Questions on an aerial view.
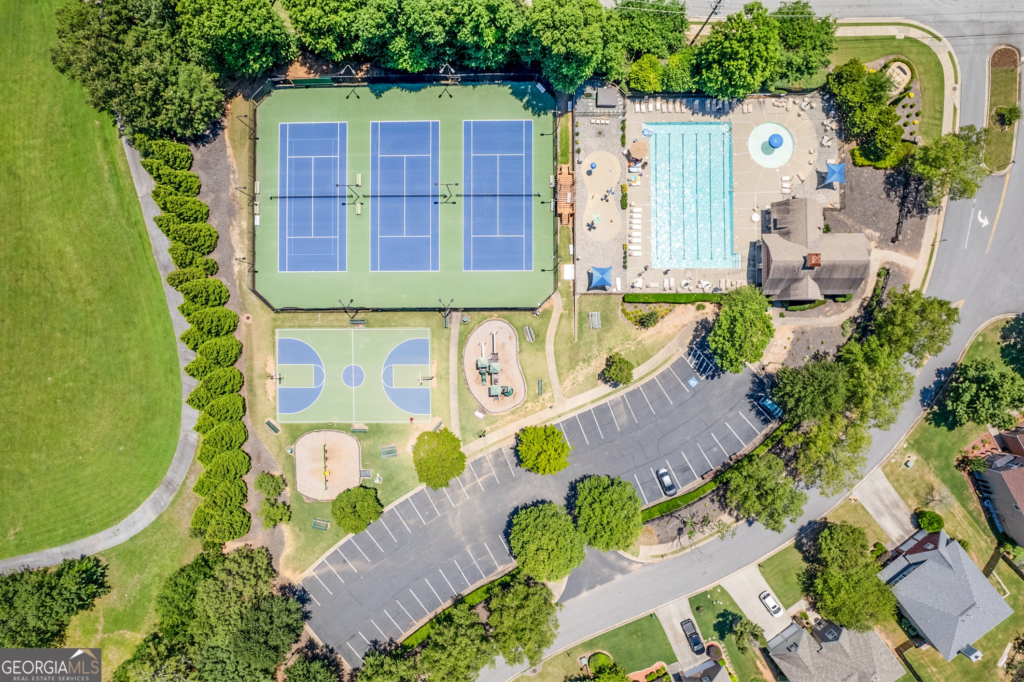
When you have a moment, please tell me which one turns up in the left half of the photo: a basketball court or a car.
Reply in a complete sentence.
What appears in the left half of the photo is a basketball court.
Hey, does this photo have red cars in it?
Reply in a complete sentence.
No, I can't see a single red car in this photo.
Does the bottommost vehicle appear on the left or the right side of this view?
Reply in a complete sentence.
The bottommost vehicle is on the right side of the image.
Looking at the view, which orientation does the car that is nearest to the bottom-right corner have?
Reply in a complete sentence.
The car that is nearest to the bottom-right corner is laid out at an angle.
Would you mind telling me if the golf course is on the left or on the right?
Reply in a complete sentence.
It is on the left.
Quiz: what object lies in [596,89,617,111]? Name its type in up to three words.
shed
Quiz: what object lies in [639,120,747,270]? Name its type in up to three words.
swimming pool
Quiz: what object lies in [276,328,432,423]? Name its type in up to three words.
basketball court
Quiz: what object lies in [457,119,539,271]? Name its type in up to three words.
tennis court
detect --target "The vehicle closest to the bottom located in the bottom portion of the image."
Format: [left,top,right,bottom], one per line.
[679,619,707,658]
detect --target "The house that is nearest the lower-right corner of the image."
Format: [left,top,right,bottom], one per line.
[882,526,1014,663]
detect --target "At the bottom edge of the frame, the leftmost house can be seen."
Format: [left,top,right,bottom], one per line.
[679,653,733,682]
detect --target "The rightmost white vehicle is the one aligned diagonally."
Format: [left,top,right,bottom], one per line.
[759,591,786,621]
